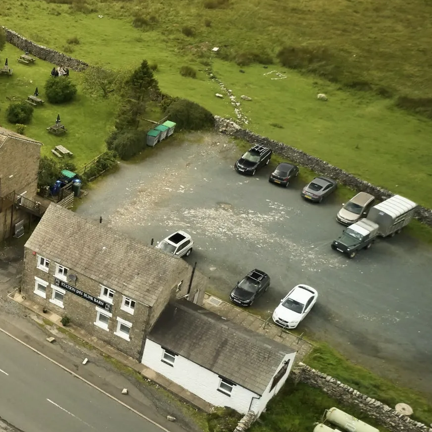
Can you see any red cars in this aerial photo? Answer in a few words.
No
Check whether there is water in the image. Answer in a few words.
No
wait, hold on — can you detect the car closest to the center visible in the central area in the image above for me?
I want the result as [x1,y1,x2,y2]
[157,226,200,257]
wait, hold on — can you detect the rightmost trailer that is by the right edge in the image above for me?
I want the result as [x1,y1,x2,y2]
[367,194,417,240]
